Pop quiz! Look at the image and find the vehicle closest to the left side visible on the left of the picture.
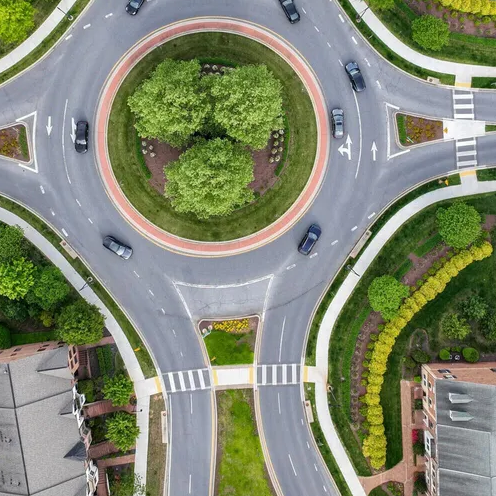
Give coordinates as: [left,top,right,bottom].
[73,119,90,153]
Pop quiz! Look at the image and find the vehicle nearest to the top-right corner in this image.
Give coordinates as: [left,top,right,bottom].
[343,60,366,92]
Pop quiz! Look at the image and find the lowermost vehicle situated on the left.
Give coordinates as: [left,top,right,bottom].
[101,234,133,259]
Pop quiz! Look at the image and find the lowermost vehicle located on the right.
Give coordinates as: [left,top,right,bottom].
[298,222,321,256]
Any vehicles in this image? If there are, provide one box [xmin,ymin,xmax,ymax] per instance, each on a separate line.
[279,0,299,25]
[343,60,366,92]
[101,234,133,259]
[73,119,90,153]
[330,107,345,139]
[126,0,144,17]
[298,222,321,256]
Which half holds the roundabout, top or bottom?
top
